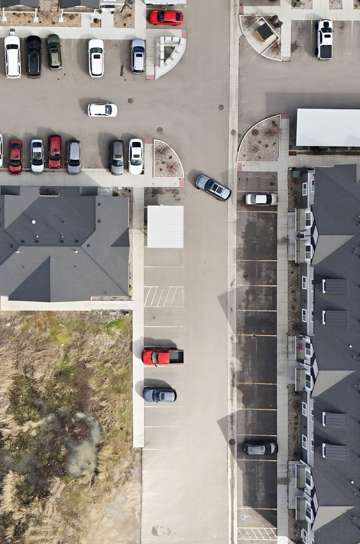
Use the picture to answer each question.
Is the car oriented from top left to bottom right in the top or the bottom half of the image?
top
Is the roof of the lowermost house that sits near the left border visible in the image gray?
Yes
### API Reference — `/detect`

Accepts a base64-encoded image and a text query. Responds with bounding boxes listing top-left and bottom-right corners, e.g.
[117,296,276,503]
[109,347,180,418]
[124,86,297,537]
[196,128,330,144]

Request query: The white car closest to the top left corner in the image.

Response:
[4,36,22,79]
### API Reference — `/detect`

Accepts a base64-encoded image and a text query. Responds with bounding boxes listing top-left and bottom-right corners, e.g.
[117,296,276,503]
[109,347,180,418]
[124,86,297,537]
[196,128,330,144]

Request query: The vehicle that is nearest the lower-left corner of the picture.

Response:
[143,386,177,404]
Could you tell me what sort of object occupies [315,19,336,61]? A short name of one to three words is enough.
truck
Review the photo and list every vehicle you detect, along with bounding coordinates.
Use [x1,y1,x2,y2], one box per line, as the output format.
[243,190,278,207]
[109,139,126,175]
[24,35,43,78]
[45,34,63,70]
[65,139,82,175]
[194,173,232,203]
[242,439,278,458]
[315,19,336,61]
[142,0,178,6]
[4,36,22,79]
[147,8,184,27]
[87,39,106,78]
[7,139,23,175]
[141,348,185,367]
[46,135,63,170]
[128,138,145,176]
[143,386,177,404]
[28,138,45,174]
[130,38,147,74]
[86,102,118,118]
